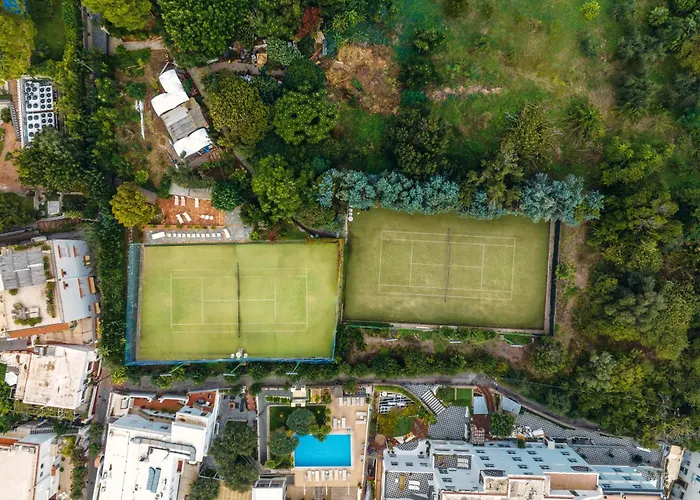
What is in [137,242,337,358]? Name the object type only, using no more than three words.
tennis court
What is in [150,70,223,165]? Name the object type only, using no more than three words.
shed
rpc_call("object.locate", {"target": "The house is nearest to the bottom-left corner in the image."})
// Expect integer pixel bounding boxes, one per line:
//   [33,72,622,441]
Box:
[0,425,62,500]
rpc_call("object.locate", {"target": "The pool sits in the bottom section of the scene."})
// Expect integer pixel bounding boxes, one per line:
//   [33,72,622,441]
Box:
[293,430,353,470]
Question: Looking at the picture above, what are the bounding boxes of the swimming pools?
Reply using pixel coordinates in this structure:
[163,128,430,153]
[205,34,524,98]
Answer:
[0,0,23,14]
[293,430,353,470]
